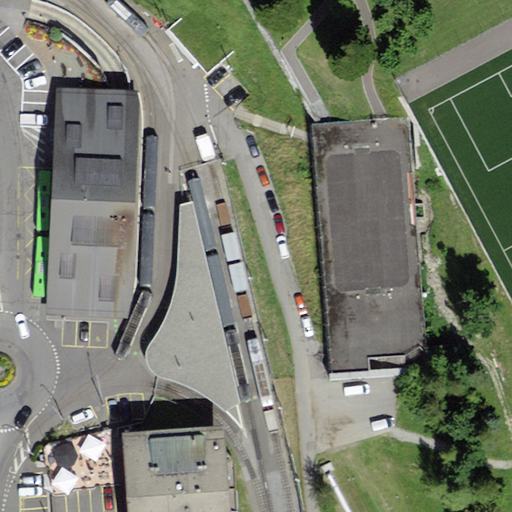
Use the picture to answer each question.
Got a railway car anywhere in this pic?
Yes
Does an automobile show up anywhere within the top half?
Yes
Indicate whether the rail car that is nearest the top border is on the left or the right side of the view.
left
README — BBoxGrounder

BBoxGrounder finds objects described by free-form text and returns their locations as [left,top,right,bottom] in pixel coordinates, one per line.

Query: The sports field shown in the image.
[407,49,512,302]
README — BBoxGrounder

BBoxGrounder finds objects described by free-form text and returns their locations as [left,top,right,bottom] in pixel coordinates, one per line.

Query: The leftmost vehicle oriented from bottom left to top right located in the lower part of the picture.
[14,406,32,428]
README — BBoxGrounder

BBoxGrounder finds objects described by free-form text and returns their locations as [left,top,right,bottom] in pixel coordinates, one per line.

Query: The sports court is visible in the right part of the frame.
[326,148,410,296]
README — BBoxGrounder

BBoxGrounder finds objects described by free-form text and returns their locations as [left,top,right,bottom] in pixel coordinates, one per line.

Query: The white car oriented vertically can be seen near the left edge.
[16,314,28,338]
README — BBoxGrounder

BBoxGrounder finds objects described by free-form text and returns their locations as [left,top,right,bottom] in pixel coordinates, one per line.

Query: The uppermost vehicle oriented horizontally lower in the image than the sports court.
[343,382,370,394]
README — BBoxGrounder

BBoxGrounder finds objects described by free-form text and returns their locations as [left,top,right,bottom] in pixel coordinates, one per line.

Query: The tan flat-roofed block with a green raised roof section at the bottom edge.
[120,427,237,512]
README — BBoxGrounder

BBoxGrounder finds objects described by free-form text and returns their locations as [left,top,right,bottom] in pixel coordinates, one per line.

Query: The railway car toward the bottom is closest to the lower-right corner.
[264,408,280,432]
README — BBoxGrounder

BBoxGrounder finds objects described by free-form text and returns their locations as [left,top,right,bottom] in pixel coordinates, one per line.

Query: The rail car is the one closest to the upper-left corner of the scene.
[104,0,148,36]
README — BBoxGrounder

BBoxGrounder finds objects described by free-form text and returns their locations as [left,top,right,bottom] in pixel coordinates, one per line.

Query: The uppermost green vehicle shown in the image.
[34,170,48,233]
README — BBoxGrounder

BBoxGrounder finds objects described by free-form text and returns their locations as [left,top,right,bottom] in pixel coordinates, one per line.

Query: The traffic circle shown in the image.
[0,335,33,407]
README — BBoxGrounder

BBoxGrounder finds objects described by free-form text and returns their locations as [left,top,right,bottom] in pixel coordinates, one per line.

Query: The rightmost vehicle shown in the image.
[369,416,396,431]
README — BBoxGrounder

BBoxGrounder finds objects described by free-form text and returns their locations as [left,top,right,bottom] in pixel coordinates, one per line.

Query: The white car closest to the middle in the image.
[276,235,289,259]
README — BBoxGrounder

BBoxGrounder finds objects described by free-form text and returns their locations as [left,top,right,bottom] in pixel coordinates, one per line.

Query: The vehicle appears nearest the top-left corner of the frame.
[2,37,23,56]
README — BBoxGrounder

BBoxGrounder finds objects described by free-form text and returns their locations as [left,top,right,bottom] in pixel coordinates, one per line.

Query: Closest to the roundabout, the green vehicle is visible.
[32,236,47,298]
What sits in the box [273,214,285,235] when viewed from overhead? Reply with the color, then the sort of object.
red vehicle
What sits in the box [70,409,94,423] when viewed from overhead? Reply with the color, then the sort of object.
white car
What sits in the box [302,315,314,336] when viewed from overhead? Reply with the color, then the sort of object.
white vehicle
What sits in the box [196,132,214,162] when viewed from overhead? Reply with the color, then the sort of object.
white vehicle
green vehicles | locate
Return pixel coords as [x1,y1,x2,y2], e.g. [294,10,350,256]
[34,170,48,233]
[32,236,47,298]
